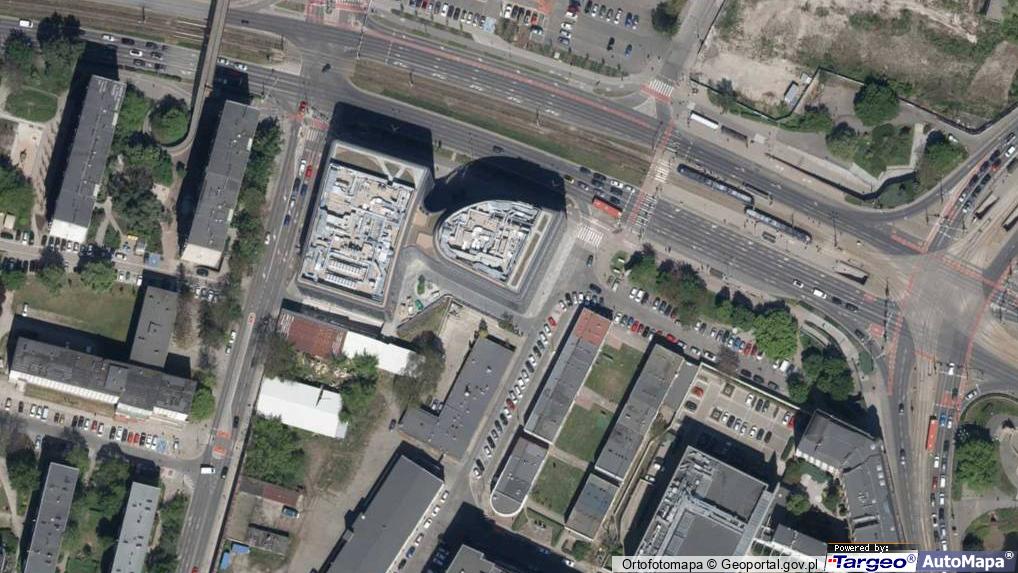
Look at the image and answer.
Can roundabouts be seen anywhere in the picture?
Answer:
No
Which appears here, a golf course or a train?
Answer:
train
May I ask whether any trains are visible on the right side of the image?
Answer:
Yes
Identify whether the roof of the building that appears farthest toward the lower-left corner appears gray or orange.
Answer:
gray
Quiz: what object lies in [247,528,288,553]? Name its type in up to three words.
shed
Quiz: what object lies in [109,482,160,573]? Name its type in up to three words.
building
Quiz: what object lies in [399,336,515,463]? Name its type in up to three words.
building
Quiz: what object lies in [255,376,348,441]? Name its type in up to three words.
shed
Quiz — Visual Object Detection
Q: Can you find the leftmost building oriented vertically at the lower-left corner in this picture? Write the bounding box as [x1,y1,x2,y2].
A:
[24,463,80,573]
